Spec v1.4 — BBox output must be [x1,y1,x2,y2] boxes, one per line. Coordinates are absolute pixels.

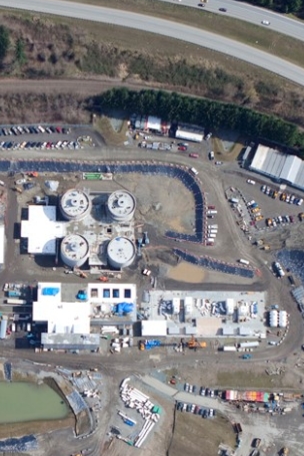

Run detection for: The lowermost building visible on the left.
[33,283,136,346]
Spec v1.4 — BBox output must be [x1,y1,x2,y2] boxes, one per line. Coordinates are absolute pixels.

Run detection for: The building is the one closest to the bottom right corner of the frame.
[141,292,266,338]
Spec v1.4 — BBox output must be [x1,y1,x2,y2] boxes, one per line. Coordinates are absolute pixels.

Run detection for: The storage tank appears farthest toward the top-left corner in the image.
[61,189,89,222]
